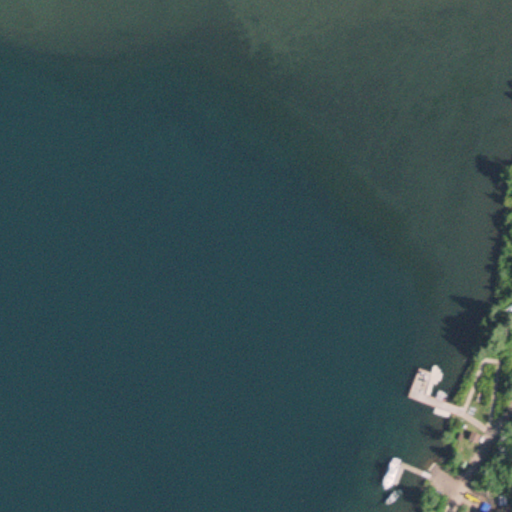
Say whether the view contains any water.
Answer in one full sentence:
Yes, there is water in the image.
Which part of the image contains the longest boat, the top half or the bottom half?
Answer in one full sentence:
The bottom half of the photo is where the longest boat is.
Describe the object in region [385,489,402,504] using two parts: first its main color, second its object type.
white boat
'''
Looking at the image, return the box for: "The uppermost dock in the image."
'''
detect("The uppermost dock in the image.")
[408,368,486,433]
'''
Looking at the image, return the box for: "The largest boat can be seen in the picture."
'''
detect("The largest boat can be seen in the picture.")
[383,456,402,490]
